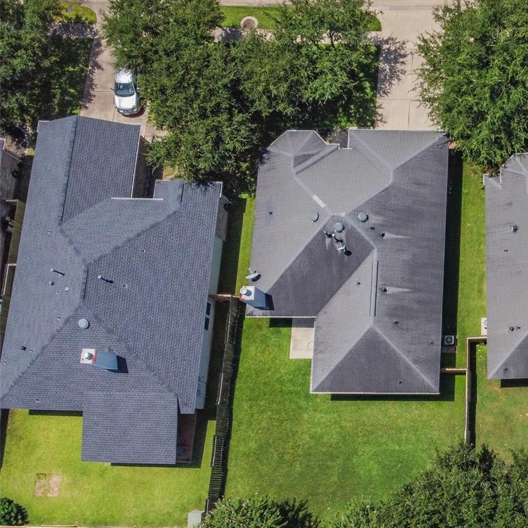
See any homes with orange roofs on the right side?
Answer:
No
